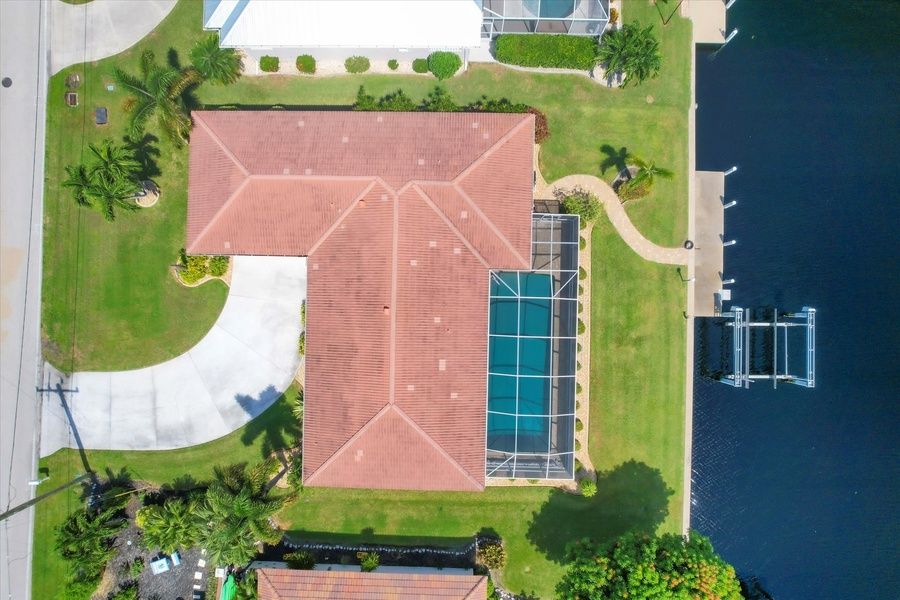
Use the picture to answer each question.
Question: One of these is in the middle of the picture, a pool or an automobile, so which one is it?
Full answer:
The one visible in the middle of the picture is a pool.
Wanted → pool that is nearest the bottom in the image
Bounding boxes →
[486,270,555,455]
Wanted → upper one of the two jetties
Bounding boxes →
[696,0,727,43]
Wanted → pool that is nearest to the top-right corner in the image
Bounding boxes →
[533,0,578,21]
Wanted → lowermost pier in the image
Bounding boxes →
[694,170,725,316]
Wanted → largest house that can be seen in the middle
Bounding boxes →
[185,108,536,493]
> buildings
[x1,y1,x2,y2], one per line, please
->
[202,0,484,60]
[256,559,489,600]
[185,108,536,493]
